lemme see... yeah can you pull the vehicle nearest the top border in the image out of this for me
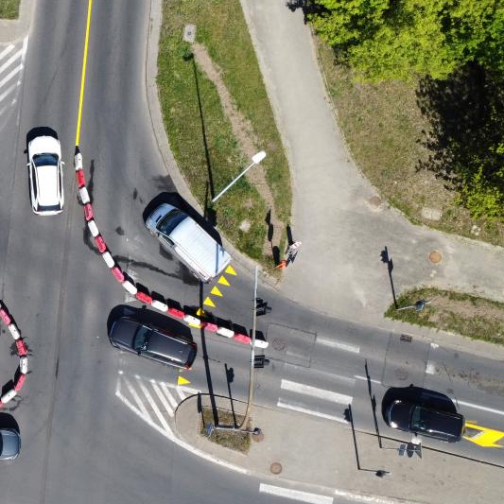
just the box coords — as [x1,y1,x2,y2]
[23,137,66,216]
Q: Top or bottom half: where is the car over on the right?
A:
bottom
